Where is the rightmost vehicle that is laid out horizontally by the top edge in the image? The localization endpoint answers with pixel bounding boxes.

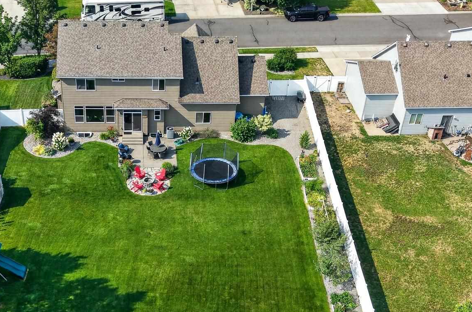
[282,3,334,24]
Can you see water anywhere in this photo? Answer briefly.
No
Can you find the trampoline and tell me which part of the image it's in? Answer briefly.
center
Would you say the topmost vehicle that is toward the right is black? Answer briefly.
Yes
